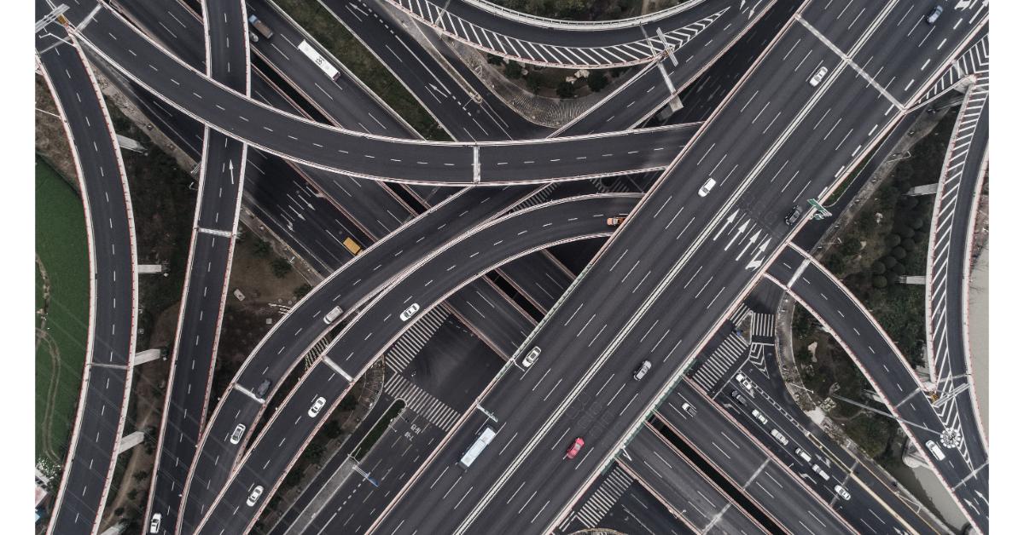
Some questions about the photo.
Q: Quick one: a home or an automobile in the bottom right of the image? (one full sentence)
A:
You can see an automobile in the bottom right of the image.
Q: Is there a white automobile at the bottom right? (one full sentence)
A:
Yes, you'll find a white automobile at the bottom right.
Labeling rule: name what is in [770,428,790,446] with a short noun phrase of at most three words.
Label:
car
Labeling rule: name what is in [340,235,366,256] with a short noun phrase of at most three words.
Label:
truck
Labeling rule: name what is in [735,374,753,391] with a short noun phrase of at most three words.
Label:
car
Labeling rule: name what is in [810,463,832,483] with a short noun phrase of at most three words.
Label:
vehicle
